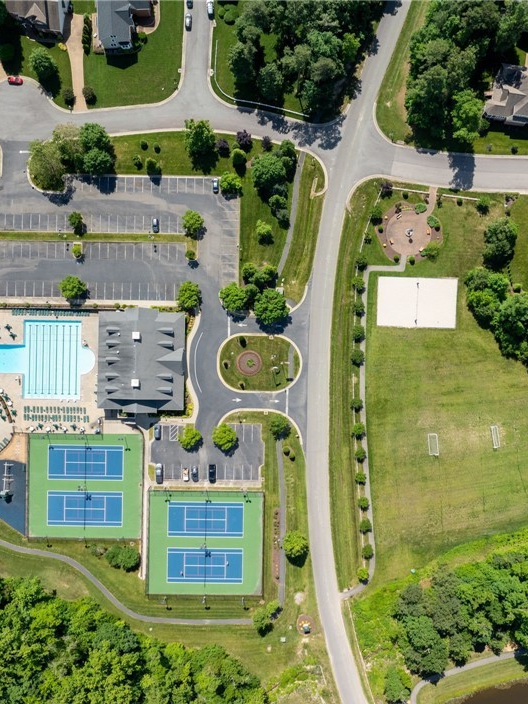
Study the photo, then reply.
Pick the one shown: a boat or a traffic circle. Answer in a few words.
traffic circle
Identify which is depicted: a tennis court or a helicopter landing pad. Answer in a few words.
tennis court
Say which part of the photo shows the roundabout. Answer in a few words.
center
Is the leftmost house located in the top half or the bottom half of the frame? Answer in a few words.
top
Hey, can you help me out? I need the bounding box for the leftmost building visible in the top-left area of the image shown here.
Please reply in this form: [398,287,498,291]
[5,0,65,40]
